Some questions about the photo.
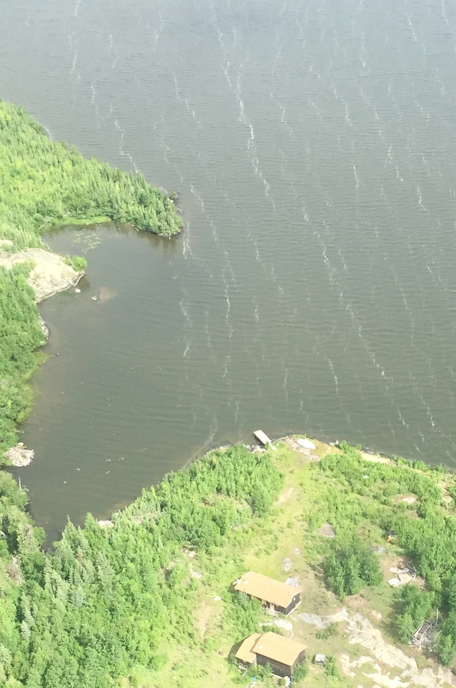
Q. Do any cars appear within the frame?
No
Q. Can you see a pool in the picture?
No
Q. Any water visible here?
Yes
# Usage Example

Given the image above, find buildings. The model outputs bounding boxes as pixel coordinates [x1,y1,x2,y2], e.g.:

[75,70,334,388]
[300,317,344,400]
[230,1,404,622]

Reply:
[235,573,303,618]
[413,616,439,649]
[239,631,311,674]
